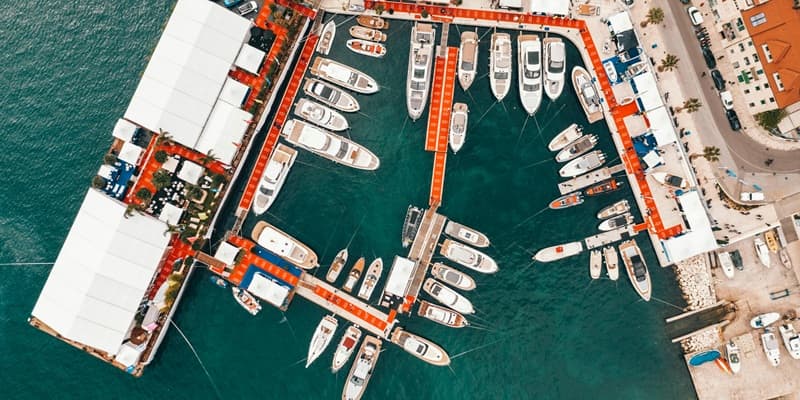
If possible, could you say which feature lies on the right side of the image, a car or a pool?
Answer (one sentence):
Looking on the right side of the image, you will find a car.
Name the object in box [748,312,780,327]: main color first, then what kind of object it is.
white boat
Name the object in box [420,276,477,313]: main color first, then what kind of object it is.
white boat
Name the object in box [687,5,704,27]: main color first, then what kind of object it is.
white car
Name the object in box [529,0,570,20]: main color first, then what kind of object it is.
white tent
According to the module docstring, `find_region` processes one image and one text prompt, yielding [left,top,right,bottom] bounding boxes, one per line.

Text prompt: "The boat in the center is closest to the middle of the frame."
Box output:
[402,207,423,246]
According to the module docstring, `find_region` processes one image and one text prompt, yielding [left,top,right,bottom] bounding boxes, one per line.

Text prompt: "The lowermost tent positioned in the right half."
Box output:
[658,231,719,262]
